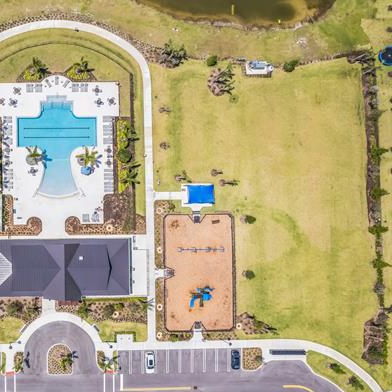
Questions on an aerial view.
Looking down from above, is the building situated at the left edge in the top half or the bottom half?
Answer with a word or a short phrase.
bottom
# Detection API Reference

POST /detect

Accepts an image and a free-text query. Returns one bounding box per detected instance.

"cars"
[144,351,155,372]
[229,348,240,369]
